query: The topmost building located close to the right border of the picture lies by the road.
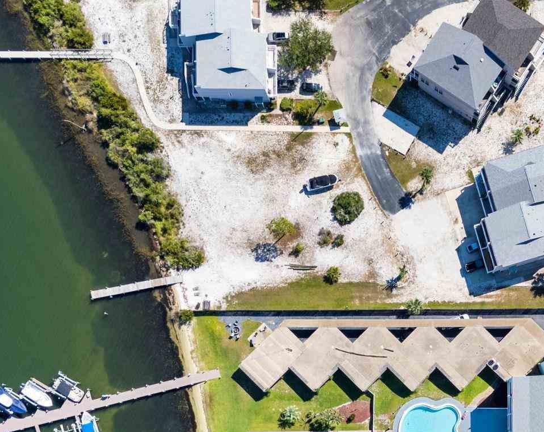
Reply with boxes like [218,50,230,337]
[412,0,544,132]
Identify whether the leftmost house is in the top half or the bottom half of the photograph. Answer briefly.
top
